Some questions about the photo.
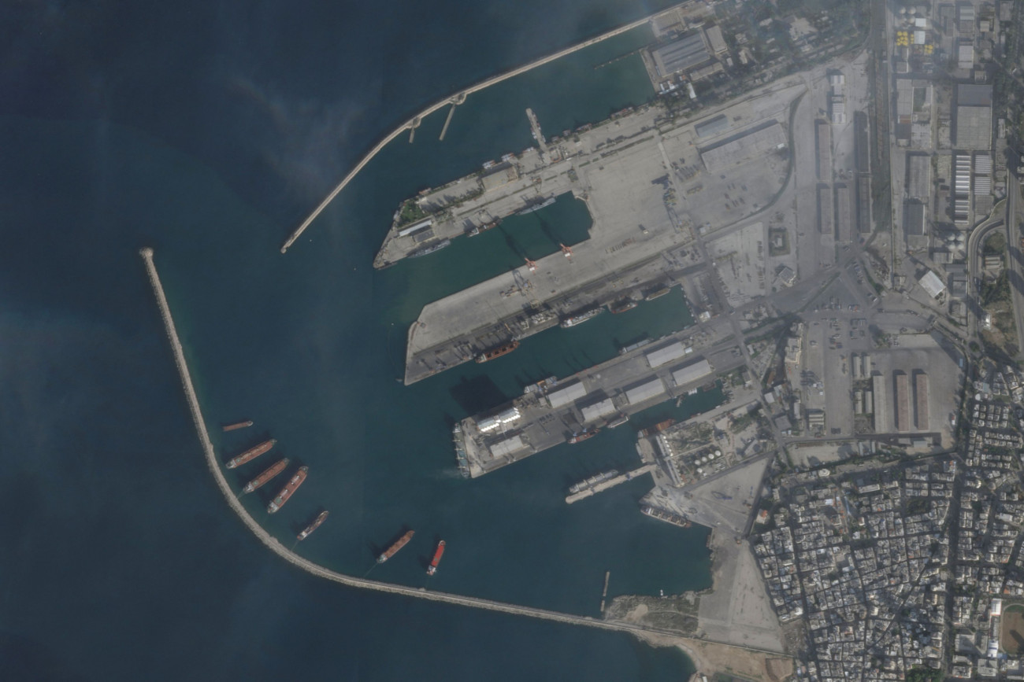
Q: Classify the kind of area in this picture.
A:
port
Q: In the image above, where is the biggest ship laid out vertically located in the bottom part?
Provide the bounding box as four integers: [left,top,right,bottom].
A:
[454,423,469,478]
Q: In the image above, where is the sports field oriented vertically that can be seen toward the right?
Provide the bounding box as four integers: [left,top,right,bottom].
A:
[1001,600,1024,660]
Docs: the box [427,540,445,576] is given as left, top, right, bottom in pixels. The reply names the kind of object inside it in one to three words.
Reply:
ship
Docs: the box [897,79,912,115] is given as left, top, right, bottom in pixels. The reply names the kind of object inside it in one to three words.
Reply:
building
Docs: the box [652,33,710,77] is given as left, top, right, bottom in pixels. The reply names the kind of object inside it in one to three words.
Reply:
building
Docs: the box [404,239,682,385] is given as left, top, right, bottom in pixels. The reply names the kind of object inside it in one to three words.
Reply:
pier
